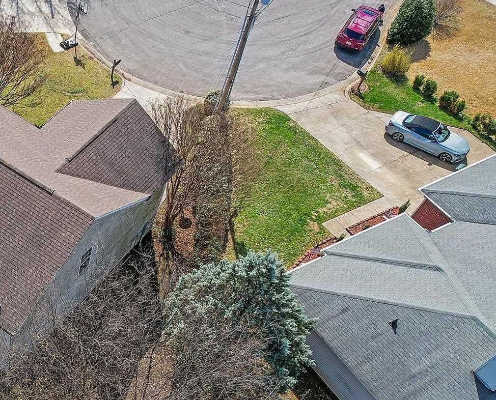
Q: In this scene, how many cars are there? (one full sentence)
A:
The picture shows 2 cars.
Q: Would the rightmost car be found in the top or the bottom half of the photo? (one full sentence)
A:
The top half of the photo is where the rightmost car is.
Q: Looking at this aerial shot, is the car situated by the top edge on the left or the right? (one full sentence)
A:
You can find the car situated by the top edge on the right side of the picture.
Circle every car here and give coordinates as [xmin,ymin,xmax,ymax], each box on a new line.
[388,107,473,160]
[338,6,387,53]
